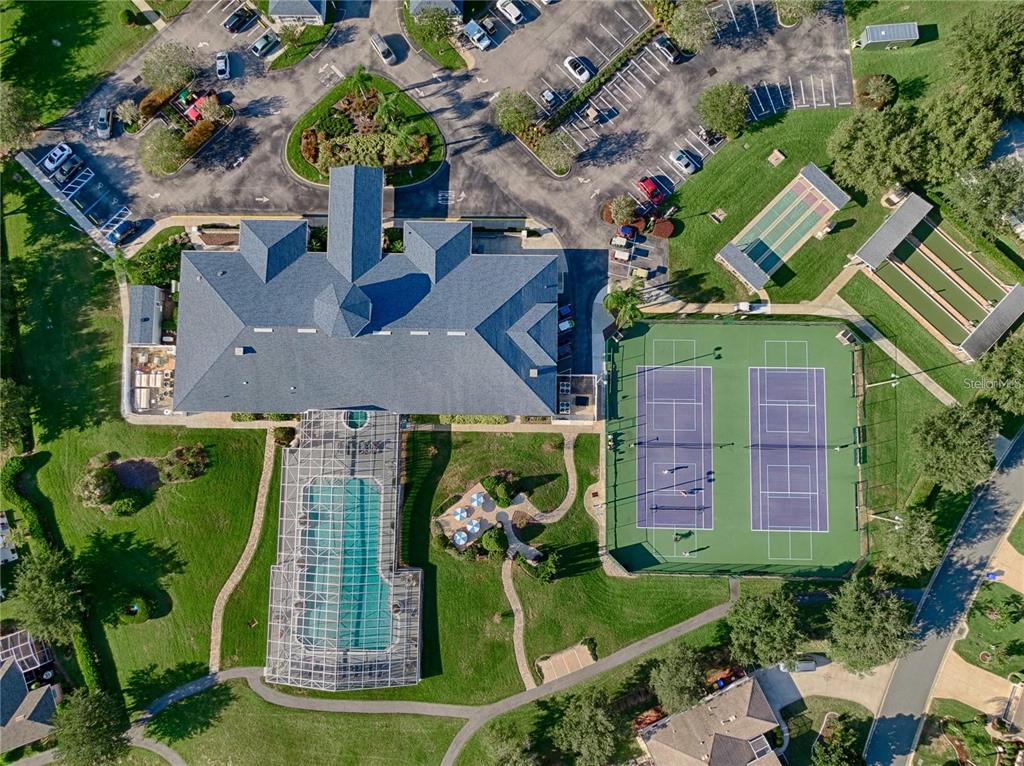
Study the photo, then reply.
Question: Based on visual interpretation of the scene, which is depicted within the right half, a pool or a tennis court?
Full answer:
The feature located within the right half is a tennis court.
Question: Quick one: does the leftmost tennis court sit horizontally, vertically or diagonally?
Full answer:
In this picture, the leftmost tennis court lies vertically.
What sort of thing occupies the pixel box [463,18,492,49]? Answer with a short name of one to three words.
vehicle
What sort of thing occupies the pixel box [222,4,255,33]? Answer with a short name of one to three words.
car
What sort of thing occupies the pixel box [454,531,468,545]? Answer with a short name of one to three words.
umbrella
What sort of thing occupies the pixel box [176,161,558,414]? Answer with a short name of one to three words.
building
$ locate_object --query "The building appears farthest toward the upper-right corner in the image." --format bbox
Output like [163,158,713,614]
[996,211,1024,257]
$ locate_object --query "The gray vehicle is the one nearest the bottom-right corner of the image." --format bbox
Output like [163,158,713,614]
[780,658,817,675]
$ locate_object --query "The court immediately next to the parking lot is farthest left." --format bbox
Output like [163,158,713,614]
[637,339,714,557]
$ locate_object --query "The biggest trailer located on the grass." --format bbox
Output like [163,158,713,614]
[848,22,919,49]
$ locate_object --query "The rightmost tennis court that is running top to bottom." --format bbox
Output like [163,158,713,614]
[750,341,828,559]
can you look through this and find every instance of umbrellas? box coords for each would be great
[466,519,480,533]
[470,493,484,507]
[454,531,468,545]
[453,507,467,521]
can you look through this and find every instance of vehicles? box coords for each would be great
[483,19,498,39]
[43,142,72,172]
[780,658,817,675]
[463,18,492,49]
[55,153,84,185]
[250,30,281,58]
[612,250,630,262]
[368,29,399,66]
[654,34,681,64]
[222,4,255,33]
[616,225,634,238]
[609,237,626,249]
[96,108,113,139]
[700,127,709,138]
[562,55,591,85]
[496,0,526,26]
[630,268,648,277]
[107,219,138,245]
[558,305,573,318]
[541,89,556,108]
[215,50,230,81]
[636,175,666,206]
[583,106,599,125]
[669,149,697,176]
[732,302,750,313]
[558,320,575,333]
